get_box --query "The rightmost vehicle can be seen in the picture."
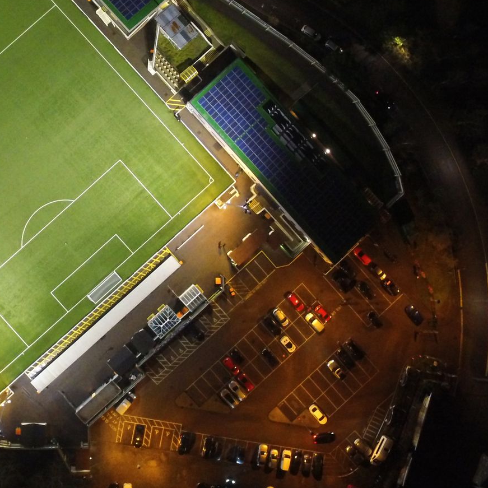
[404,303,426,327]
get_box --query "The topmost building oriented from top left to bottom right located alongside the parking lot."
[184,57,380,265]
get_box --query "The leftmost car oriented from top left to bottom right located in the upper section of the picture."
[300,25,322,43]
